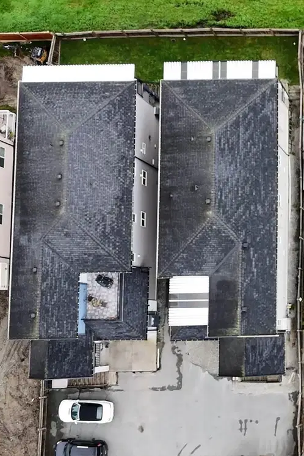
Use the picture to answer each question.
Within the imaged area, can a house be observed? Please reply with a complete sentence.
Yes, the image includes a house.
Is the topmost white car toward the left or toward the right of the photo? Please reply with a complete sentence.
You can find the topmost white car on the left side of the picture.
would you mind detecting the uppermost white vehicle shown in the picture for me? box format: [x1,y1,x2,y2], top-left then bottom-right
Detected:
[59,396,117,426]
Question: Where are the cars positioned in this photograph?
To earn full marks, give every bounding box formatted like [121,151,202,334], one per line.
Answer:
[55,438,110,456]
[59,396,117,426]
